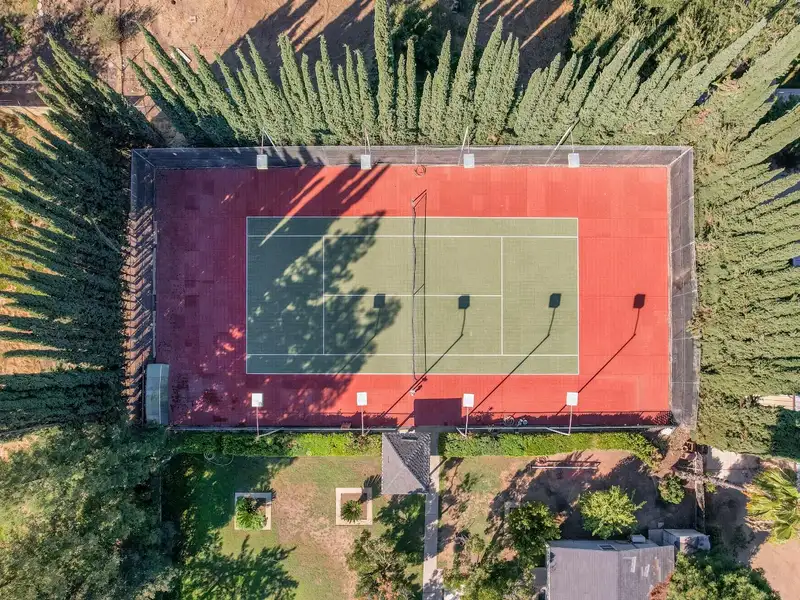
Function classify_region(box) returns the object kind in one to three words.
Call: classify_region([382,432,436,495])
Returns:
building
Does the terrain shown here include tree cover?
Yes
